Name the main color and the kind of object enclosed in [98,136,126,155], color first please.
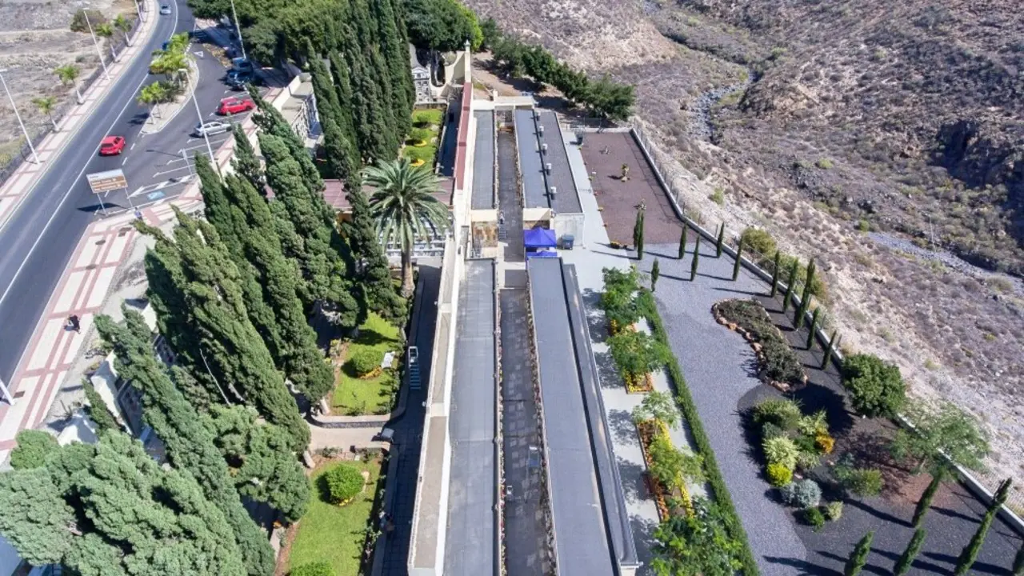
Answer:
red car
